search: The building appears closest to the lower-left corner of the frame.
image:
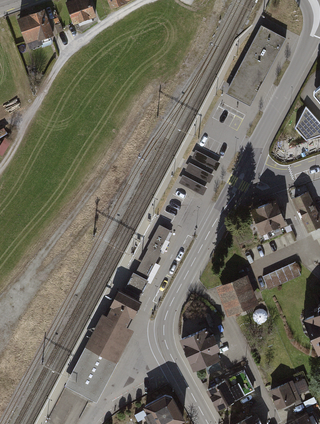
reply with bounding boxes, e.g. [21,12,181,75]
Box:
[66,348,117,402]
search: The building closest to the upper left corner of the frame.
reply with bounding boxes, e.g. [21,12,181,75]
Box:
[19,10,54,50]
